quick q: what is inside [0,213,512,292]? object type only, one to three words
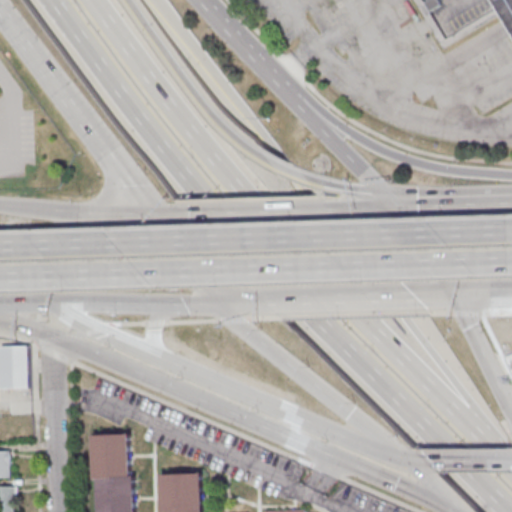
overpass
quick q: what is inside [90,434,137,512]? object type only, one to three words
building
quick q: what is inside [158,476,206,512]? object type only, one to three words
building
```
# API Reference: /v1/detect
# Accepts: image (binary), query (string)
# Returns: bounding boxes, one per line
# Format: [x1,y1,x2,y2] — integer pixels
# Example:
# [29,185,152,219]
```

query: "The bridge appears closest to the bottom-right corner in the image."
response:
[408,447,512,472]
